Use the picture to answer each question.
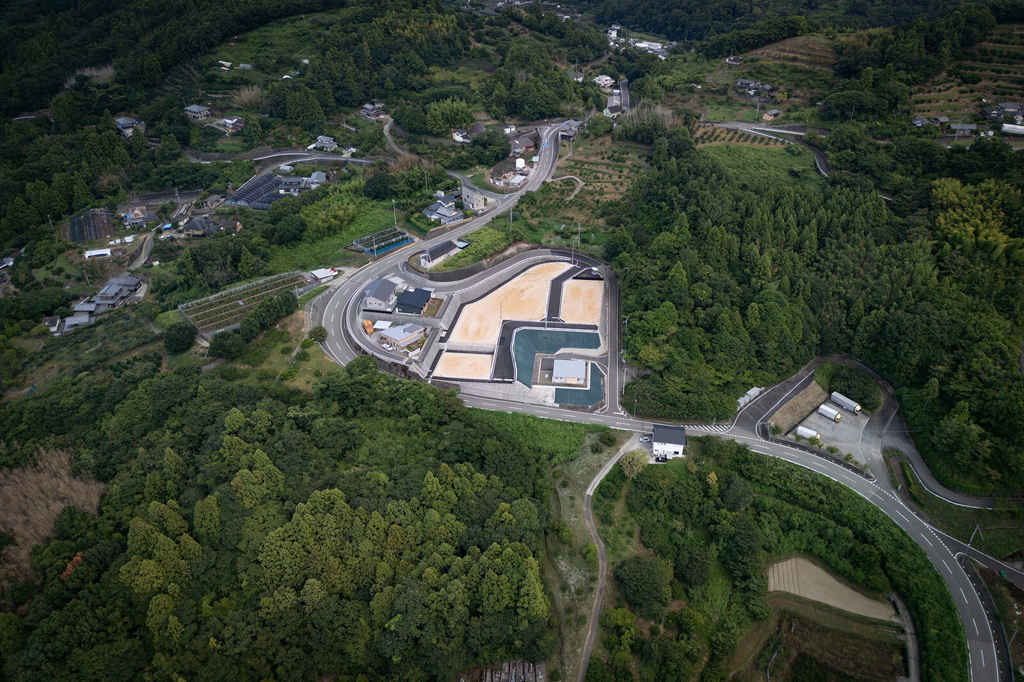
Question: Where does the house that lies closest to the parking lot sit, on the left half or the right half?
right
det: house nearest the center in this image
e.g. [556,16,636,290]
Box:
[551,358,586,384]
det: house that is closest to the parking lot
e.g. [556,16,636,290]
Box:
[653,421,687,461]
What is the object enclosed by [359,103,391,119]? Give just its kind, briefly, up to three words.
house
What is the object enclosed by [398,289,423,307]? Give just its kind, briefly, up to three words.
solar array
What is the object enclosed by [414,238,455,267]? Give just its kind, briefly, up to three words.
building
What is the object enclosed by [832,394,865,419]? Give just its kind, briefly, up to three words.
truck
